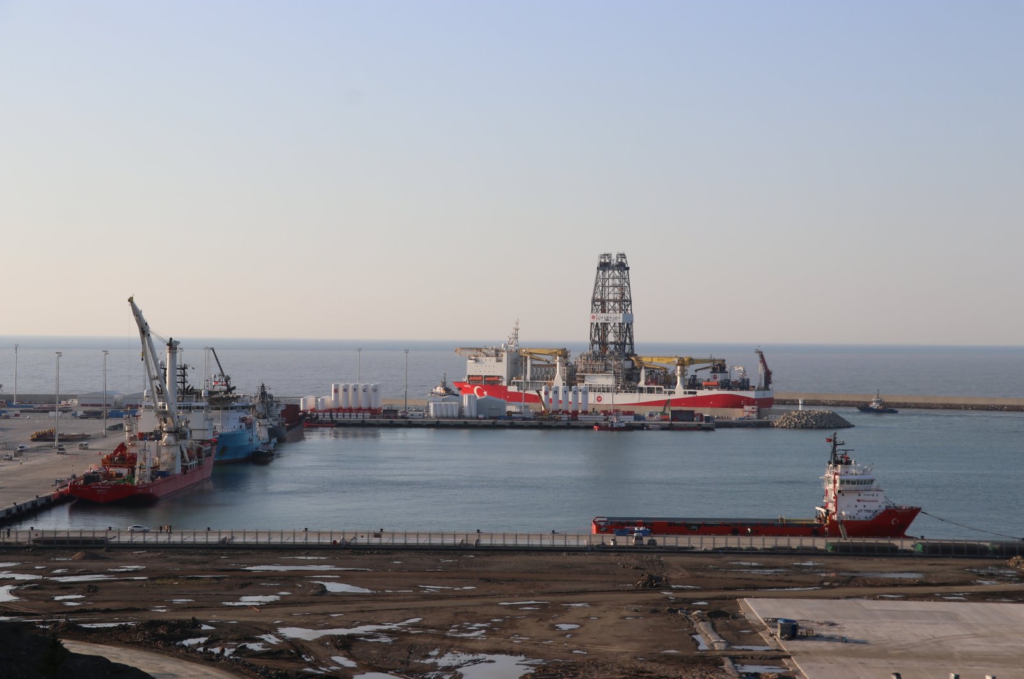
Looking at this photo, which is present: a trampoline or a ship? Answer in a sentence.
I can see a ship in this picture.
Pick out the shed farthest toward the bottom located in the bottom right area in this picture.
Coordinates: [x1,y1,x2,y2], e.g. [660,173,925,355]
[777,617,799,641]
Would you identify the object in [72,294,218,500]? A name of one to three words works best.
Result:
ship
